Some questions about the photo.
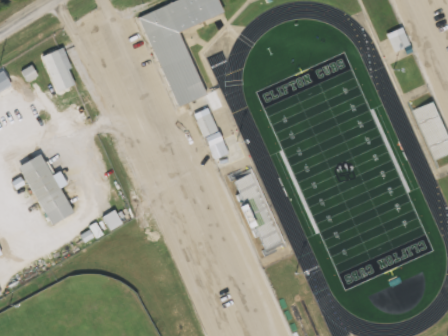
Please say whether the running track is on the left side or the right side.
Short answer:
right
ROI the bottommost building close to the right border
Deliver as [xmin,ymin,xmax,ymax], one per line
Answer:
[412,102,448,160]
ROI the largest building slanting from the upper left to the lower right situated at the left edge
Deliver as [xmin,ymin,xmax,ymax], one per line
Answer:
[20,156,74,225]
